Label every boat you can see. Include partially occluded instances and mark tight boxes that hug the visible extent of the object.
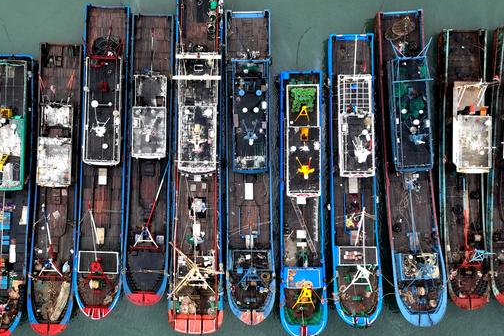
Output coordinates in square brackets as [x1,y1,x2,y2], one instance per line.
[276,71,328,336]
[122,15,176,306]
[223,11,275,325]
[325,35,382,328]
[372,12,448,328]
[433,30,497,310]
[26,45,84,336]
[74,6,132,321]
[485,26,504,303]
[165,0,225,335]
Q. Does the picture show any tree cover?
No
